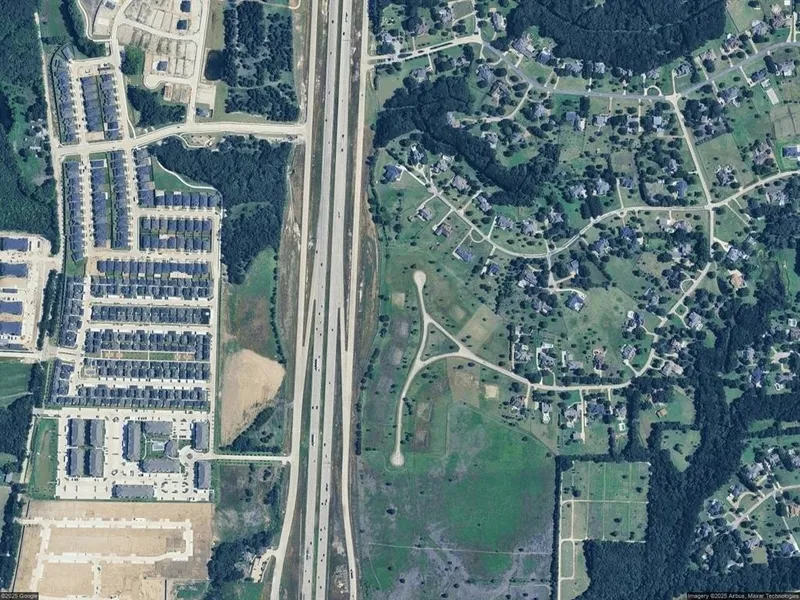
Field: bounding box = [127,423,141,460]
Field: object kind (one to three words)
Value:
building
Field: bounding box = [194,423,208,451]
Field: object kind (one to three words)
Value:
building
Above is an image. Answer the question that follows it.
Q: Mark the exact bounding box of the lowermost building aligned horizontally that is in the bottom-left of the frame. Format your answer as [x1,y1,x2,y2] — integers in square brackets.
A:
[114,485,153,498]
